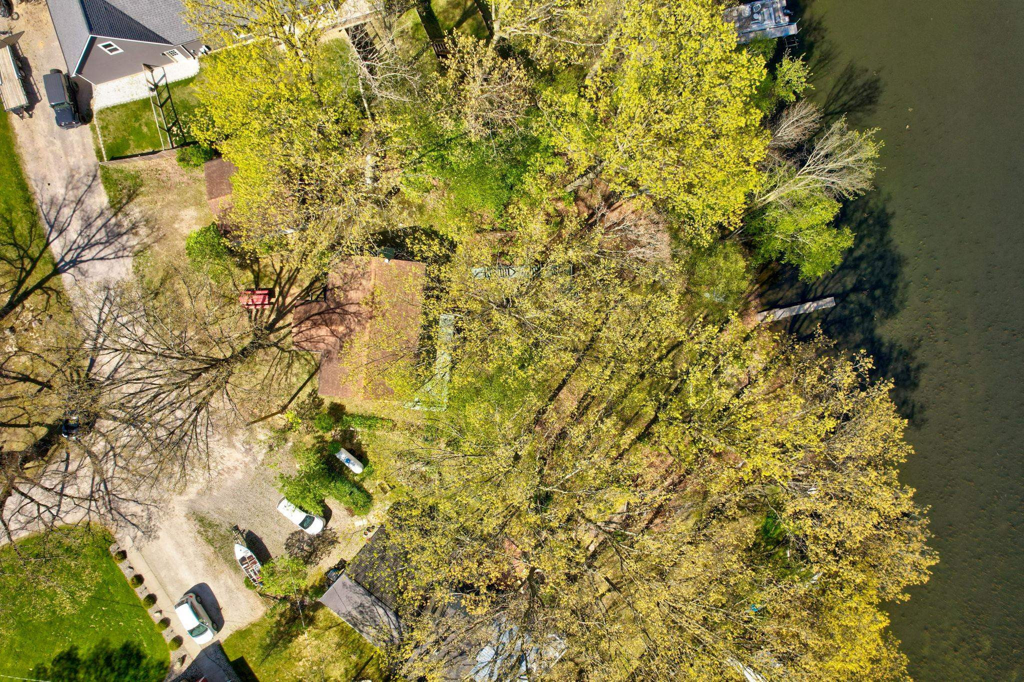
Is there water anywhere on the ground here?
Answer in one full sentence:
Yes, water can be seen from above here.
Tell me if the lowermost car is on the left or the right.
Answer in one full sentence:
The lowermost car sits on the left side.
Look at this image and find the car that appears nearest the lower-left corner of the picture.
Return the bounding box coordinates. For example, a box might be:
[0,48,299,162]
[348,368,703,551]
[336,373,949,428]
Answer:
[171,590,216,645]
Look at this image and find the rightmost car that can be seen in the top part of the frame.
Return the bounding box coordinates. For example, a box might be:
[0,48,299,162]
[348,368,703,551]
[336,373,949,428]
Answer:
[41,66,82,125]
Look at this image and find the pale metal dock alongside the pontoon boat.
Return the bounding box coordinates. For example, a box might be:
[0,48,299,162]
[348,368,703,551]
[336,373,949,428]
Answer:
[736,17,802,46]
